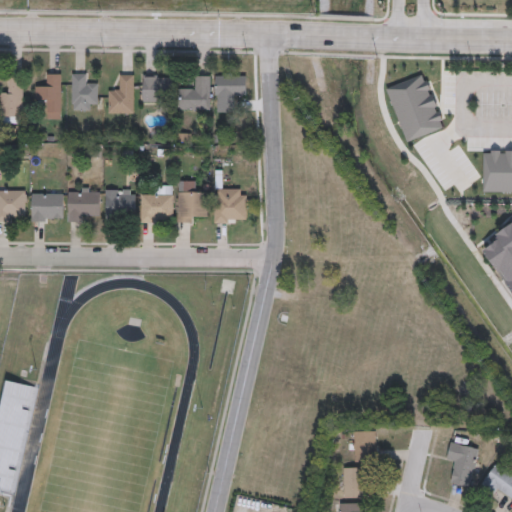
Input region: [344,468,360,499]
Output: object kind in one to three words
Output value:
house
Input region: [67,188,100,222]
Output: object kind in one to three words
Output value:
house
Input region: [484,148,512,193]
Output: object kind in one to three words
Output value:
building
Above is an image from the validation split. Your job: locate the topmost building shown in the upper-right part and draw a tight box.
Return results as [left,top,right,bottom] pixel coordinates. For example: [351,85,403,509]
[388,74,443,141]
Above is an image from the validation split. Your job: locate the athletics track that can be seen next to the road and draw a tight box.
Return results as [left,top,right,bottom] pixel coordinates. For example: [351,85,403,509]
[12,276,200,512]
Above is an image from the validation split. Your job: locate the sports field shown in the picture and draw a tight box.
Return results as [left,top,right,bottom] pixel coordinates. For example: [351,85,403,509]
[40,340,173,512]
